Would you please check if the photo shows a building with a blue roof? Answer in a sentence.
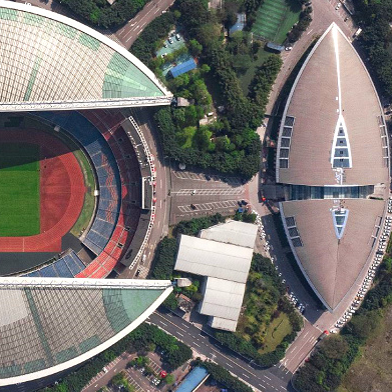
Yes, there's a building with a blue roof here.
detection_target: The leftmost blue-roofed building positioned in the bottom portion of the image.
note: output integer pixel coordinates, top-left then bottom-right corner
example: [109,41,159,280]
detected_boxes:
[171,364,209,392]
